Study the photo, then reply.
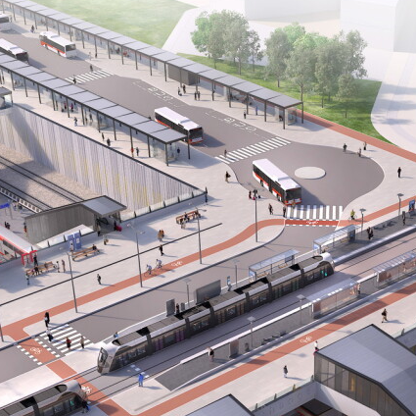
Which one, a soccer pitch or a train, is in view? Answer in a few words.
train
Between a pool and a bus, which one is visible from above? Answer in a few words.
bus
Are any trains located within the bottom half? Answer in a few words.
Yes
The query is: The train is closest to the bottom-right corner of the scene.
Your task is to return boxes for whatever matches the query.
[95,255,334,375]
